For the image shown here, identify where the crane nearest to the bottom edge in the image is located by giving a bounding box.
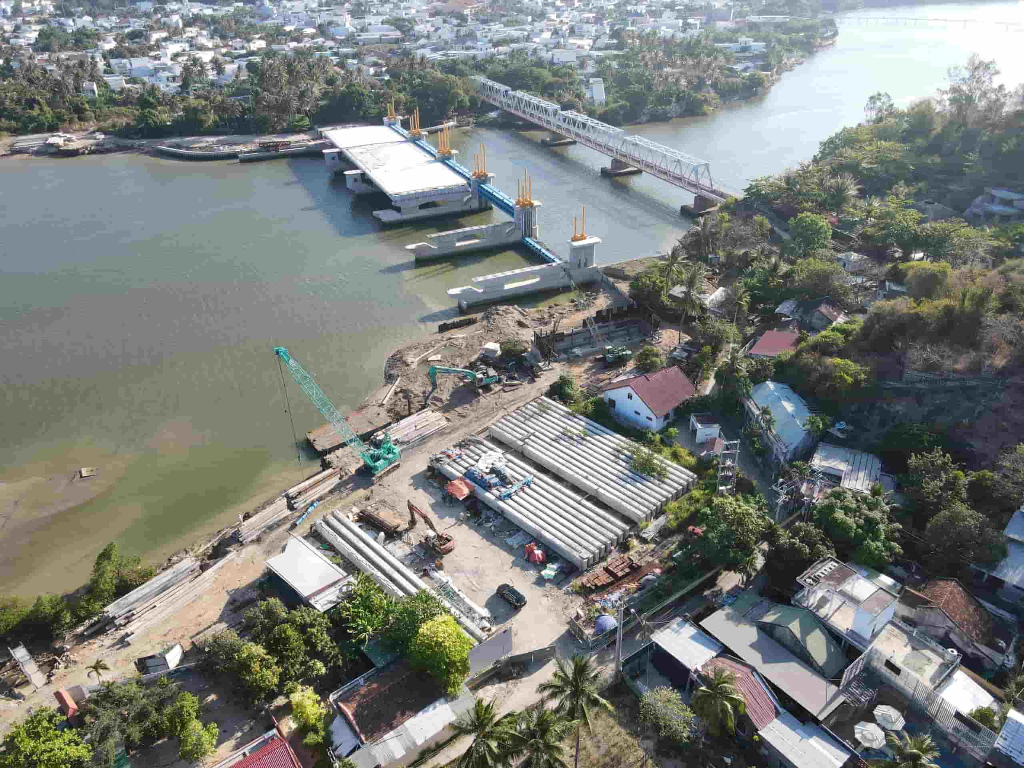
[272,352,409,488]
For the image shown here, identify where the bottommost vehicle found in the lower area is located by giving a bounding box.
[493,580,531,612]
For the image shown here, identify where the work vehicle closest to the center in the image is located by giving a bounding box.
[434,354,504,389]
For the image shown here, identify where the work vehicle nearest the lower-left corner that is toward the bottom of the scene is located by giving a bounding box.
[409,500,460,558]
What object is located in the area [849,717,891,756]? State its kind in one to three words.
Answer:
umbrella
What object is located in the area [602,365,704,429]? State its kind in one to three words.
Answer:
house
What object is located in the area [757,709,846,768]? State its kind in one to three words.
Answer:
house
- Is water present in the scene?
Yes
